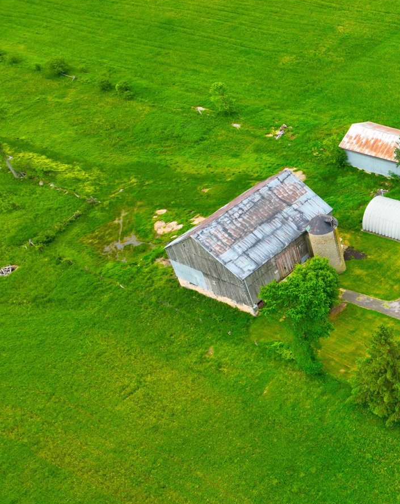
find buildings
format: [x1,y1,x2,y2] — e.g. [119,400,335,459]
[163,172,333,316]
[360,190,400,242]
[340,124,400,179]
